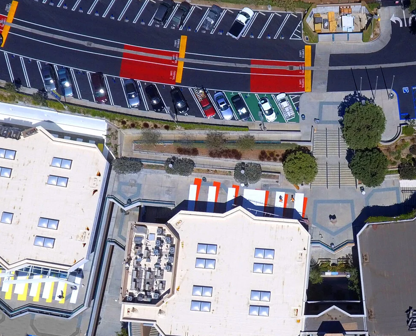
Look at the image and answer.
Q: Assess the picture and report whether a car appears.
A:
Yes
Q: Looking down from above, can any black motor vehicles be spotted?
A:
Yes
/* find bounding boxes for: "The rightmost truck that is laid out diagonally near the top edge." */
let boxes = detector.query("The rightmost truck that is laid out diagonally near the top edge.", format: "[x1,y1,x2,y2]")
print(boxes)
[227,6,255,39]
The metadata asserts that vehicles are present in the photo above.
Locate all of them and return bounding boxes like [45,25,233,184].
[274,89,297,122]
[126,79,141,107]
[214,91,235,119]
[230,92,252,121]
[259,95,278,123]
[145,83,165,112]
[152,0,176,25]
[170,1,192,28]
[227,6,255,39]
[170,87,190,114]
[189,85,218,121]
[40,64,58,92]
[90,72,109,103]
[314,11,323,33]
[57,66,76,95]
[199,2,225,33]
